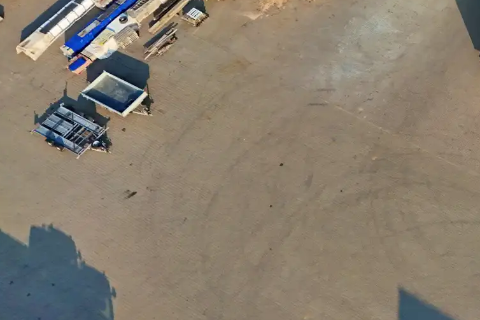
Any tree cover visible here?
No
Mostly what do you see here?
paved ground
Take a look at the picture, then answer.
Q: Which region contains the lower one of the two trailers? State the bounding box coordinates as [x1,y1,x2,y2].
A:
[32,104,111,161]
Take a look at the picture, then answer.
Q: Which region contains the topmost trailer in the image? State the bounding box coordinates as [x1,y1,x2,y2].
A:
[81,70,156,119]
